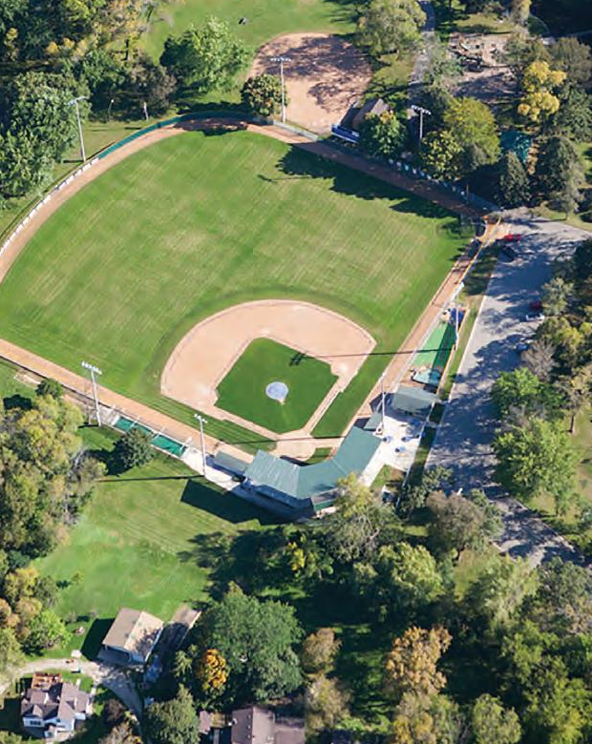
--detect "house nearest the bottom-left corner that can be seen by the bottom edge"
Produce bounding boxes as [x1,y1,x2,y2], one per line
[20,681,93,744]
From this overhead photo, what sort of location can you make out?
sports ground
